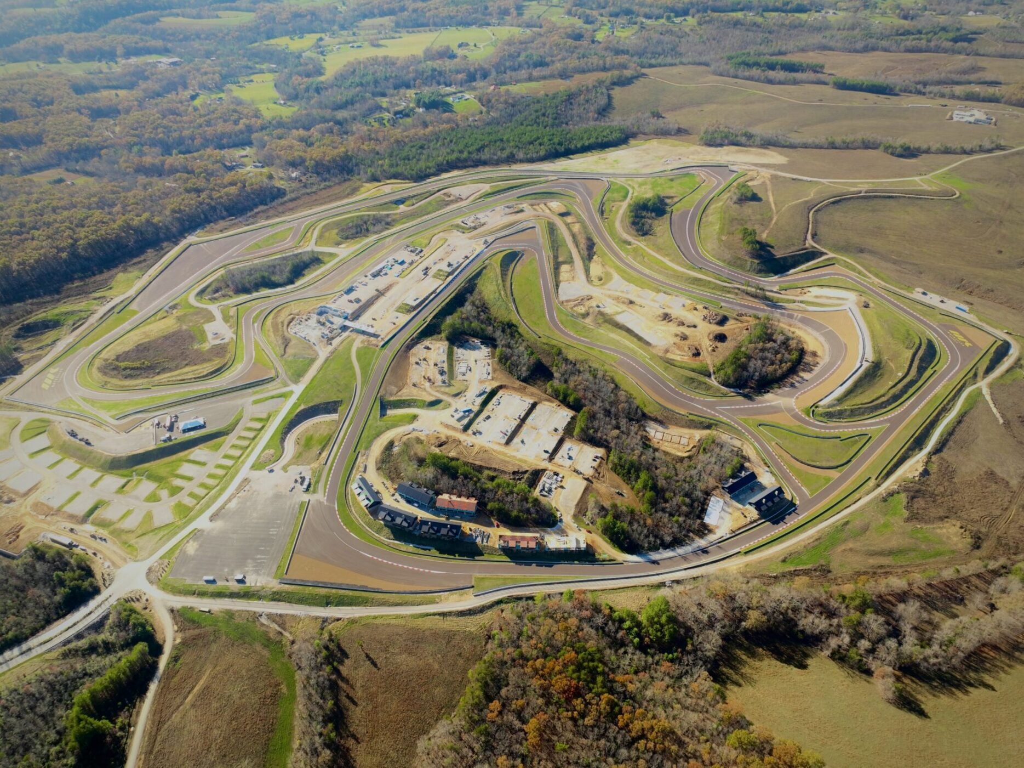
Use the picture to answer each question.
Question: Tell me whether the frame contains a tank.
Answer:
No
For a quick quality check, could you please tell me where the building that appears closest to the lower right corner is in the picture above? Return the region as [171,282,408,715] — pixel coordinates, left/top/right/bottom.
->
[747,486,789,519]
